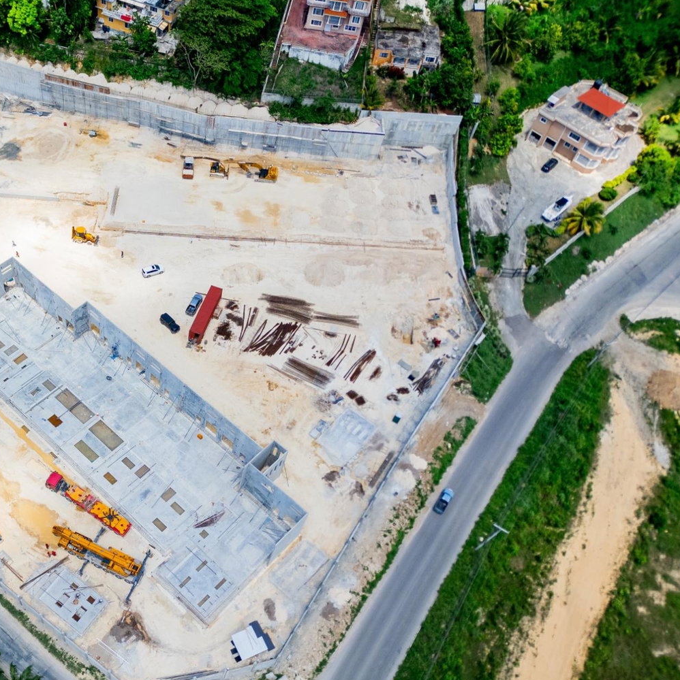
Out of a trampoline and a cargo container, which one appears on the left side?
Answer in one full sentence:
There is a cargo container on the left side.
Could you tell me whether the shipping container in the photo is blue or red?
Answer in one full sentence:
The shipping container looks red in the image.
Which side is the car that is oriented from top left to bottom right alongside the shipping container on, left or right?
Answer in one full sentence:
The car that is oriented from top left to bottom right alongside the shipping container sits on the left side.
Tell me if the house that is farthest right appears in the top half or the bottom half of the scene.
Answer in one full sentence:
The house that is farthest right sits in the top half of the picture.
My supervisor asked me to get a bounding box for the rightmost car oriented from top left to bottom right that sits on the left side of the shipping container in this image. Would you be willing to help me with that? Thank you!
[159,309,182,332]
